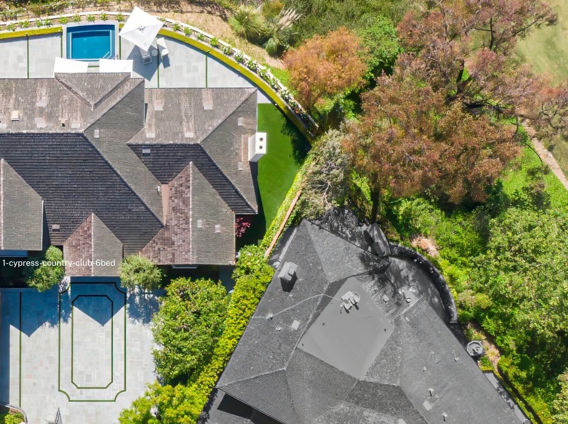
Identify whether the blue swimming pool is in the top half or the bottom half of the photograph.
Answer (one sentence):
It is in the top half that the blue swimming pool appears.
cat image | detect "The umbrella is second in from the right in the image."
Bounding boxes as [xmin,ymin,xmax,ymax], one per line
[99,59,133,73]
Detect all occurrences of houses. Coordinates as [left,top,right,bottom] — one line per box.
[217,218,528,424]
[0,72,268,406]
